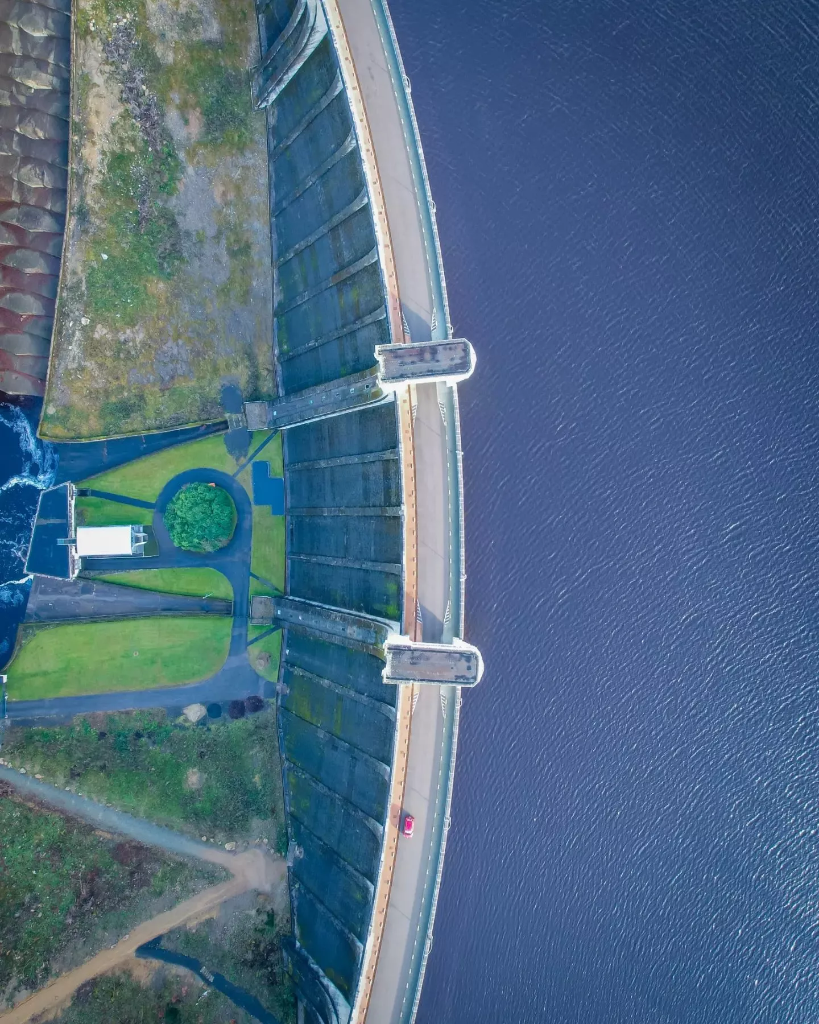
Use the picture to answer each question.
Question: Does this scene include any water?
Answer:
Yes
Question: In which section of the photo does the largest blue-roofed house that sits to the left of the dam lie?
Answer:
left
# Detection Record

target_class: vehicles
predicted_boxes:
[403,817,415,839]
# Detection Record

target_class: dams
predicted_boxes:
[253,0,465,1024]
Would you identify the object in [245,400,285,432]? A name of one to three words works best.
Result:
building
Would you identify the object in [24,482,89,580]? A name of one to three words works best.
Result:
house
